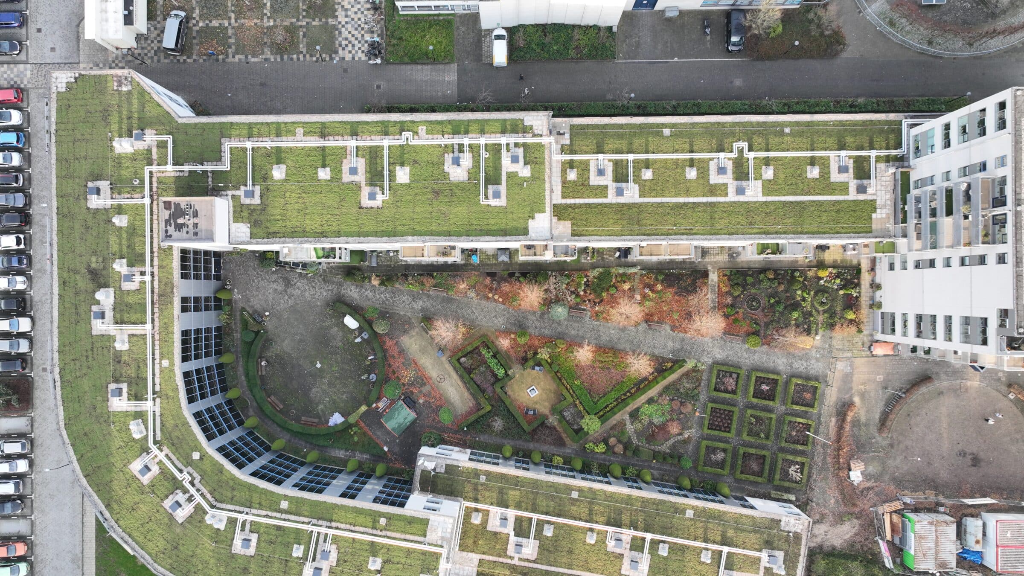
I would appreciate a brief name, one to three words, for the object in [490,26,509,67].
vehicle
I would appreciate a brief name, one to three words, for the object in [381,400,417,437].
shed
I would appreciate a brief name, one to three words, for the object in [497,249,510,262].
gazebo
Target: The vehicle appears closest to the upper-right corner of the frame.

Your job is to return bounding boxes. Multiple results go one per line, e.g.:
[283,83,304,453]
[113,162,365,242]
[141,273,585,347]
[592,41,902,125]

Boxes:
[726,7,748,53]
